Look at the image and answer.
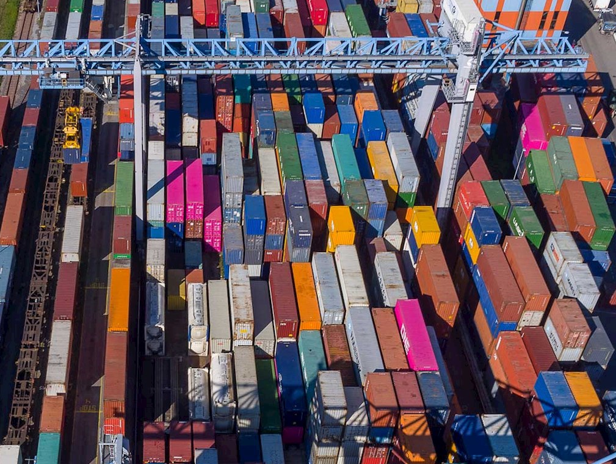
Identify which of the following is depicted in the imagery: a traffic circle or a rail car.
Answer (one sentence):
This aerial view contains a rail car.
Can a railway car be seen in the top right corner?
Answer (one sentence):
No, no railway car is visible in the top right corner.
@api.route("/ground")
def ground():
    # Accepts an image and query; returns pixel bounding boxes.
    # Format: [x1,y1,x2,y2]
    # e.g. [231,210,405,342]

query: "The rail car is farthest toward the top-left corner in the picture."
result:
[23,0,41,31]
